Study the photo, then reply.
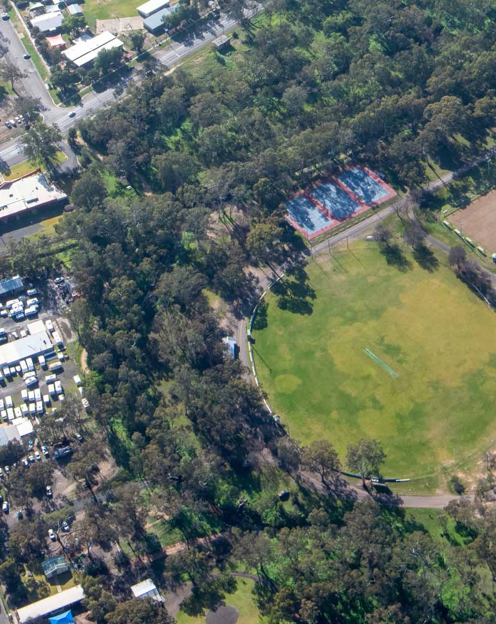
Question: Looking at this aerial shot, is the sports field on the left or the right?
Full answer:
The sports field appears in the right half of the scene.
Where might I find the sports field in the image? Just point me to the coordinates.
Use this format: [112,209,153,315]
[250,242,496,479]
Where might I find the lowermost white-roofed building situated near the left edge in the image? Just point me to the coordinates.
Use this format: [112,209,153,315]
[17,586,86,624]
